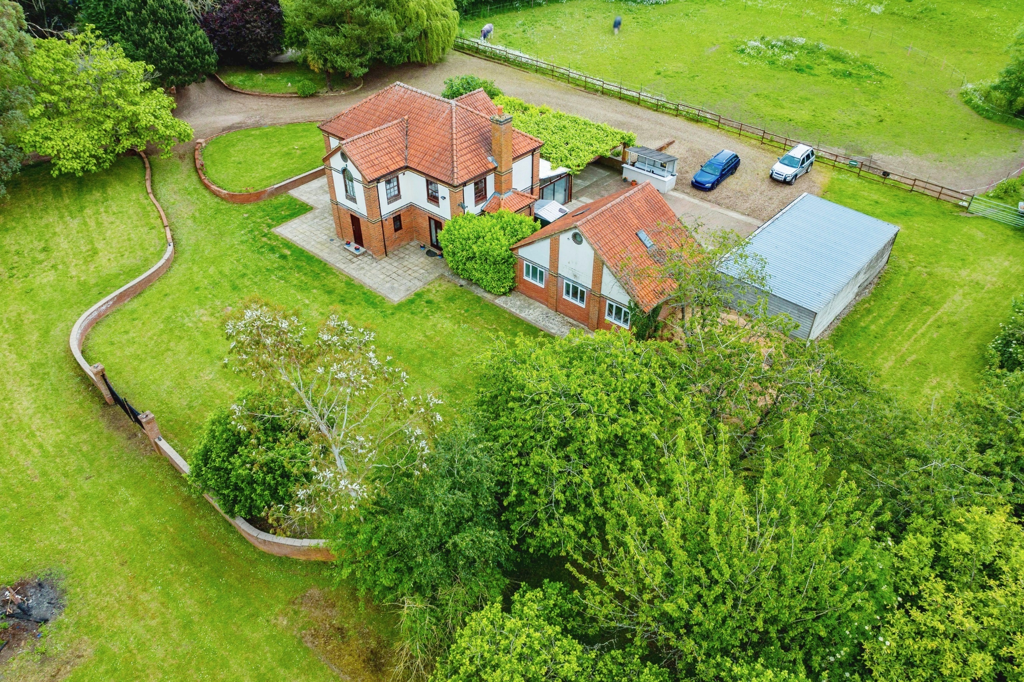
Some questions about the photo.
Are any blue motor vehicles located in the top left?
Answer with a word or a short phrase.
No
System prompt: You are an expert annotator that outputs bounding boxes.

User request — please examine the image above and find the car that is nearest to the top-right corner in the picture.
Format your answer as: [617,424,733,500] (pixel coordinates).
[764,140,818,186]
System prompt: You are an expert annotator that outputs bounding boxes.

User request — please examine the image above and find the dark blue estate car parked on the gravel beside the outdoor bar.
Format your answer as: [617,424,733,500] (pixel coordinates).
[689,149,744,189]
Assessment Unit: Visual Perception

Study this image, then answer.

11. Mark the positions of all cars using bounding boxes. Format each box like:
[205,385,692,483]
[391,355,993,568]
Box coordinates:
[764,140,818,186]
[689,149,744,189]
